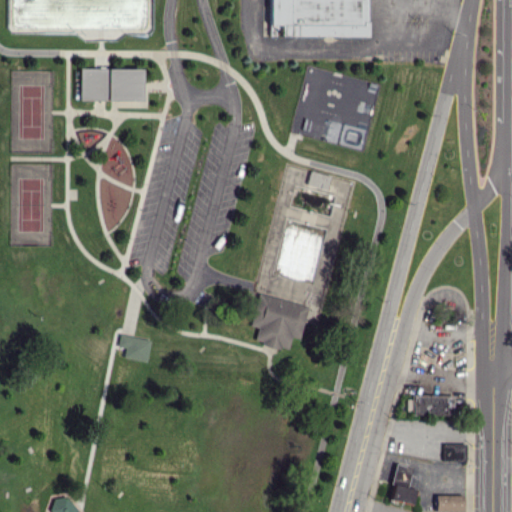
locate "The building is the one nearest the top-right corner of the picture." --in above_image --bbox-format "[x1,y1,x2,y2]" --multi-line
[272,0,372,42]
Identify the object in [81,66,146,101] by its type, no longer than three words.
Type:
building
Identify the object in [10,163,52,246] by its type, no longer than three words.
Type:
tennis court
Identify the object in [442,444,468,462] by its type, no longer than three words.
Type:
building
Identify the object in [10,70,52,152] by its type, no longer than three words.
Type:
tennis court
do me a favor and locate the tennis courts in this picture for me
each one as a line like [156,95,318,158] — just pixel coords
[10,70,52,152]
[10,163,52,246]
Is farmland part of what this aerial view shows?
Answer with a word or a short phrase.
No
